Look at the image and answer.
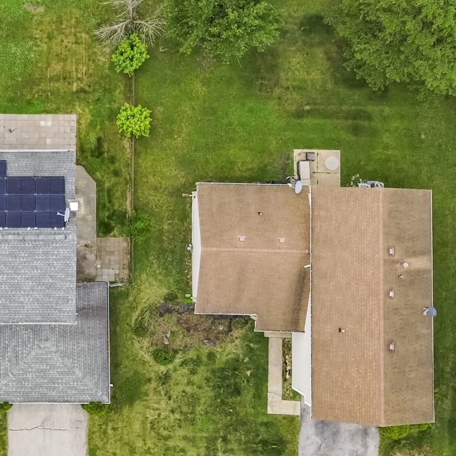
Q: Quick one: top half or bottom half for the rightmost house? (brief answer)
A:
bottom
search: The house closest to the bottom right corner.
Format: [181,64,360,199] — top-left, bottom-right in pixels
[183,181,439,427]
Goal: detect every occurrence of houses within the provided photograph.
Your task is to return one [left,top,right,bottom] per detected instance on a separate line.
[0,148,122,405]
[183,181,439,427]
